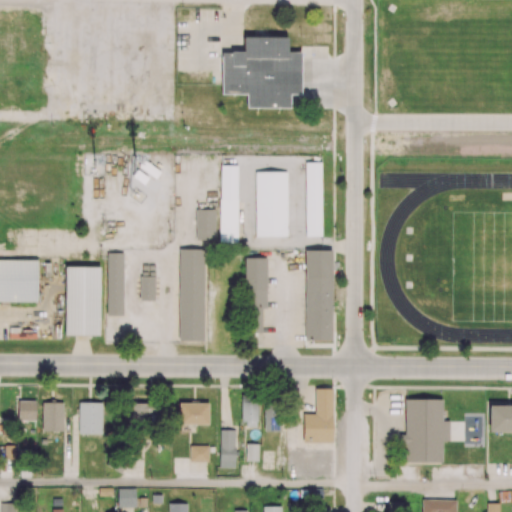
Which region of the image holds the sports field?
right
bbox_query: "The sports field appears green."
[453,212,512,322]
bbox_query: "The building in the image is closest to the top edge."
[223,36,303,108]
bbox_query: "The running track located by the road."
[381,174,512,342]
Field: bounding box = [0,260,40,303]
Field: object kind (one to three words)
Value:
barn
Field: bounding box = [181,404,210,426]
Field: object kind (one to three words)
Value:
house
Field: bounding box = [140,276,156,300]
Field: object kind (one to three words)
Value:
shed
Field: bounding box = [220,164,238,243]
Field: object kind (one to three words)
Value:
building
